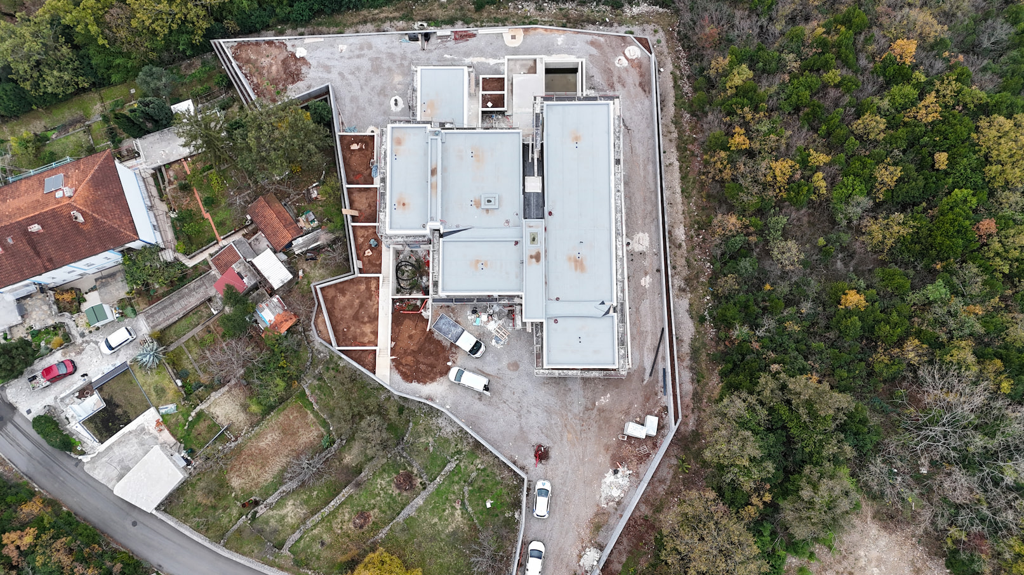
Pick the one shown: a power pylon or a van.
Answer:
van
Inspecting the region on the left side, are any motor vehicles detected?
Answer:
Yes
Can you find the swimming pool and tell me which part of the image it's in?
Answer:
top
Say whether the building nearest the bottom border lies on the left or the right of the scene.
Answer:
left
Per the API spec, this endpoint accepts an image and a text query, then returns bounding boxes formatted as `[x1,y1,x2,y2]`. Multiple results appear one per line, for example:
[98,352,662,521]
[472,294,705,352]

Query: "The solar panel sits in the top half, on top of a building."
[43,172,62,192]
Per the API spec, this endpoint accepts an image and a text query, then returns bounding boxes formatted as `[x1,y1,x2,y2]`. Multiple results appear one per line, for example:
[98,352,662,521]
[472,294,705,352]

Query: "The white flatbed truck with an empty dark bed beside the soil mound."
[431,311,487,359]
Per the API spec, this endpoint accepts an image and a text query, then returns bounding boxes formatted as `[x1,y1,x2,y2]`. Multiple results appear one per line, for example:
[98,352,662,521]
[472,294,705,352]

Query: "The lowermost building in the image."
[114,445,189,513]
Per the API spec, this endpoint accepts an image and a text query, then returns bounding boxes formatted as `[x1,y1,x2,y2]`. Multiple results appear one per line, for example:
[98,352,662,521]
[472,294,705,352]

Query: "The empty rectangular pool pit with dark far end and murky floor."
[540,49,585,109]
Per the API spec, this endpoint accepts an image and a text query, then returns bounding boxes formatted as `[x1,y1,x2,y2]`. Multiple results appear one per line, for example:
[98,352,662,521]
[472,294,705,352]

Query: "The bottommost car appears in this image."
[524,540,547,575]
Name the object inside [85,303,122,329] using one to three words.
greenhouse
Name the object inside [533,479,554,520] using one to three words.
car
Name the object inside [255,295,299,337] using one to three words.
shed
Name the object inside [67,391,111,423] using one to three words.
house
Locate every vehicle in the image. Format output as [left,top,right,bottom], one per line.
[24,358,78,393]
[100,324,139,356]
[533,479,554,520]
[431,311,487,359]
[524,540,547,575]
[447,367,493,397]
